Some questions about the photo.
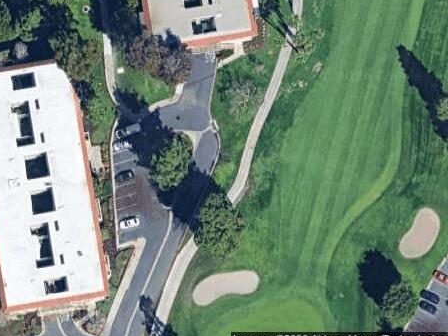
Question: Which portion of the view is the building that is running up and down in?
left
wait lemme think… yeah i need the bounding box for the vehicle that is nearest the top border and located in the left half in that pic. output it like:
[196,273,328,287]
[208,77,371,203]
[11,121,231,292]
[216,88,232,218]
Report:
[115,125,140,139]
